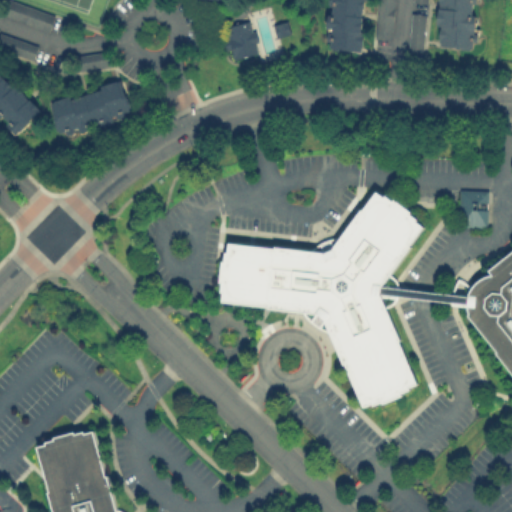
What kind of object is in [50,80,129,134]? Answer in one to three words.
building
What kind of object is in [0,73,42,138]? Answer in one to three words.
building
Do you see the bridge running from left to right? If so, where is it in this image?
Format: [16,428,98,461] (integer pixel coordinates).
[384,288,477,310]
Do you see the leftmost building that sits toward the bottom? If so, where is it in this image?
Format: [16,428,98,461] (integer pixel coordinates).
[36,431,117,512]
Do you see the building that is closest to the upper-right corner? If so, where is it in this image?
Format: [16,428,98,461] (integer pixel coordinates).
[438,0,482,52]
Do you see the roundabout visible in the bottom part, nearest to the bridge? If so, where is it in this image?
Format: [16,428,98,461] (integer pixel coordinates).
[258,326,324,391]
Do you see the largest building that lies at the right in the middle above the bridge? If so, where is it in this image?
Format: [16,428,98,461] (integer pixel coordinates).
[460,190,490,228]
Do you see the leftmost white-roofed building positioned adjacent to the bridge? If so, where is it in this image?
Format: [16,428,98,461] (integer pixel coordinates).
[220,193,424,408]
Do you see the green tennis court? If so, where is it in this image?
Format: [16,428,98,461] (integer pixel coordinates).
[36,0,110,28]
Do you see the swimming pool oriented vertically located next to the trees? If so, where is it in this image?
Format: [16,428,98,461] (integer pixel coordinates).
[253,8,282,59]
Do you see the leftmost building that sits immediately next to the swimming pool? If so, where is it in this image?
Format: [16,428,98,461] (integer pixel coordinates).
[226,22,260,62]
